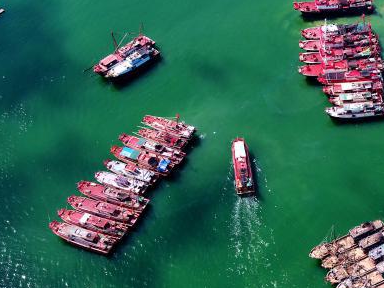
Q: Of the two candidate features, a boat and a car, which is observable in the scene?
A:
boat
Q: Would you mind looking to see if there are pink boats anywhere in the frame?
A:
Yes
